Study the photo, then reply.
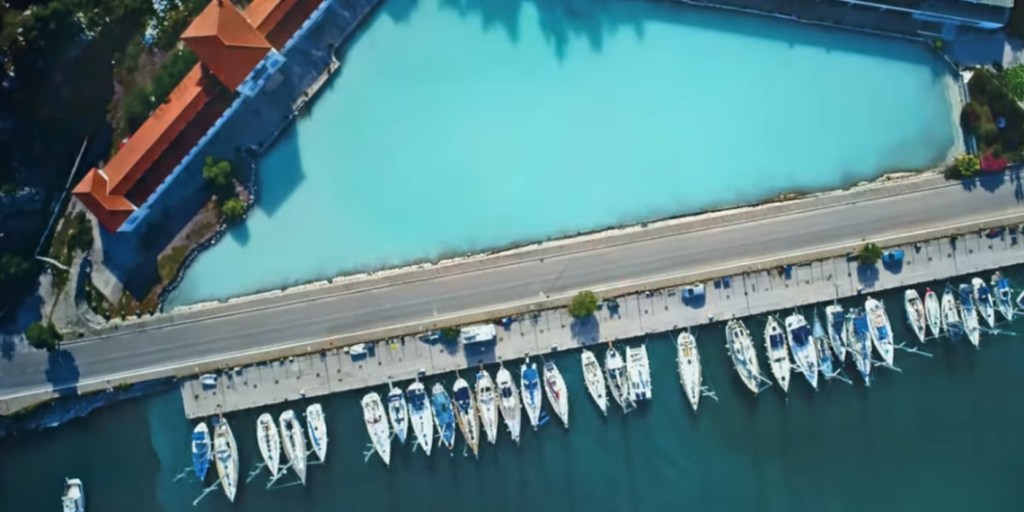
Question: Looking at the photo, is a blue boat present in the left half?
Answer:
Yes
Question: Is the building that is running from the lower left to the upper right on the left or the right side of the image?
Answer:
left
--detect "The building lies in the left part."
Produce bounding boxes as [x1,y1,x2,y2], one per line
[73,0,342,232]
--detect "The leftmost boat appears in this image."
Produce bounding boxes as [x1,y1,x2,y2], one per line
[61,475,86,512]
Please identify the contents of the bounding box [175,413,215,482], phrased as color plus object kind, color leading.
blue boat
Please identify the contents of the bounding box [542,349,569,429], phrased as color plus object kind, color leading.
white boat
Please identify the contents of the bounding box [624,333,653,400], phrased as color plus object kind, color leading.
white boat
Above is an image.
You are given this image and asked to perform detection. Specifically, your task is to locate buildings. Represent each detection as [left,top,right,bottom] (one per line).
[73,0,342,232]
[842,0,1018,49]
